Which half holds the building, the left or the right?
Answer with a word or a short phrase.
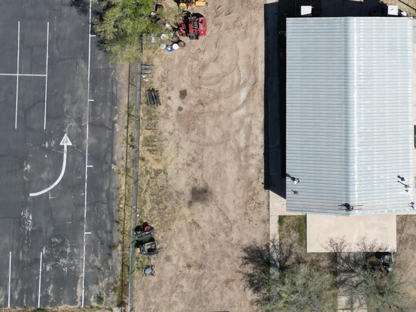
right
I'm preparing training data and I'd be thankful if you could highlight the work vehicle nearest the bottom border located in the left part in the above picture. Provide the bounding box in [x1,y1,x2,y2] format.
[136,242,158,255]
